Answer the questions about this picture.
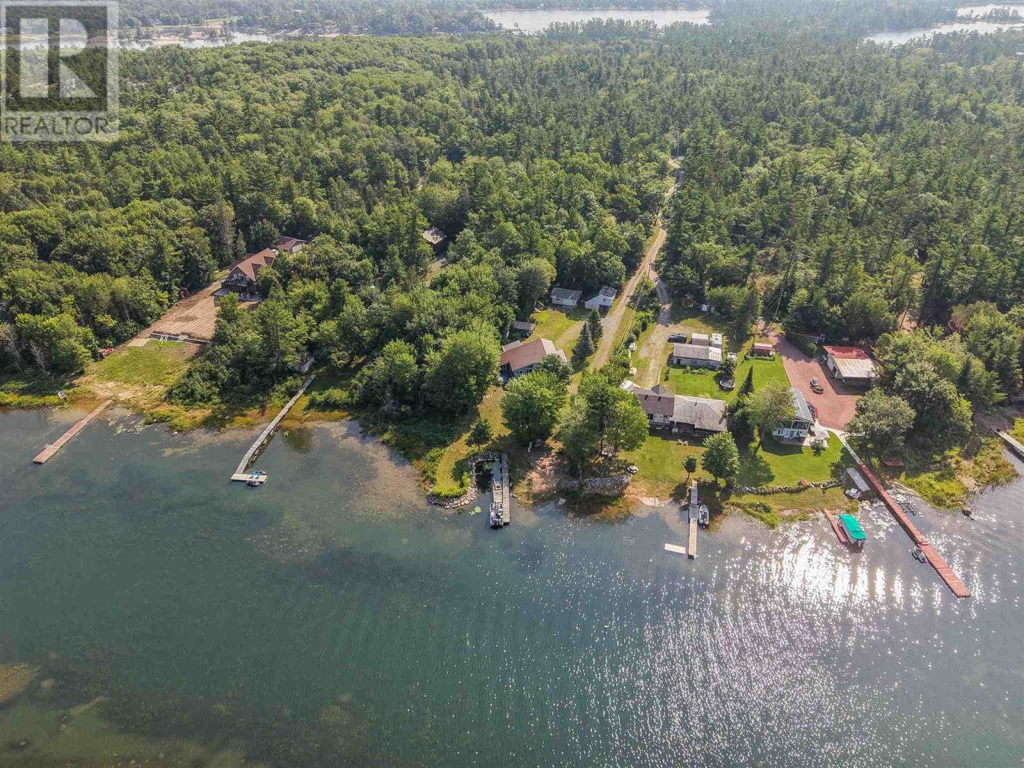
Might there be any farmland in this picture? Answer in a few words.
No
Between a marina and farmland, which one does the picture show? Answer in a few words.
marina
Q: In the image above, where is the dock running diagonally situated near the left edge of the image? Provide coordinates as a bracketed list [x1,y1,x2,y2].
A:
[33,401,113,462]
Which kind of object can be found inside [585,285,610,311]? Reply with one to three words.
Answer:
building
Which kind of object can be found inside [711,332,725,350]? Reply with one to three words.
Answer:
vehicle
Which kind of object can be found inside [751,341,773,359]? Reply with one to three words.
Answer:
shed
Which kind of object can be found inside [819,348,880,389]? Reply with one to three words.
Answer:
building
